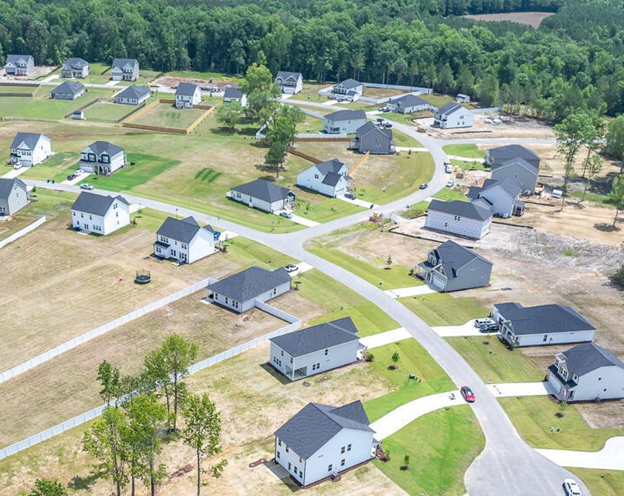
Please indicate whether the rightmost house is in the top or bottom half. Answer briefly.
bottom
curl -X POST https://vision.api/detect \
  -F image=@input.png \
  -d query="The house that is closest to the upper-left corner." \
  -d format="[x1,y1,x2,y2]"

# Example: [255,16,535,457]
[4,49,33,76]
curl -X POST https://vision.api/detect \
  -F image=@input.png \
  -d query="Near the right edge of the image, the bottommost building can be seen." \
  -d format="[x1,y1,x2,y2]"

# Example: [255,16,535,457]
[545,340,624,406]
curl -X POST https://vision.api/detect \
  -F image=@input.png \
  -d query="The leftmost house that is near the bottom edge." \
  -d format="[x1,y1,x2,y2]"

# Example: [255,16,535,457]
[273,398,381,490]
